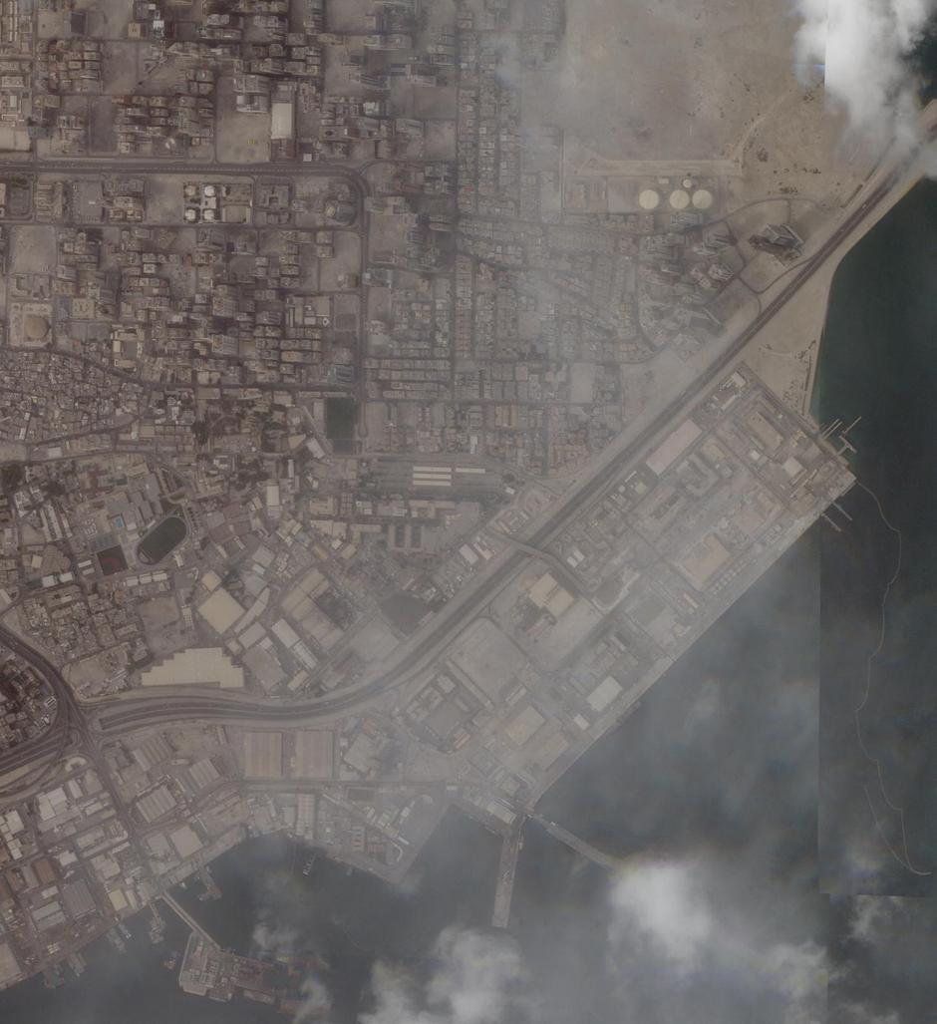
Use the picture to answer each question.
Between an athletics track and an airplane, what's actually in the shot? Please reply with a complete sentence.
Visible in the photo is an athletics track.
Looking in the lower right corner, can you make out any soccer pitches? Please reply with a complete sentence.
No, no soccer pitch appears in the lower right corner.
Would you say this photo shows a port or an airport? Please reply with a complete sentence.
This image shows a port.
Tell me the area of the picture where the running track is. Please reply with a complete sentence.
Look in the left portion of the view to spot the running track.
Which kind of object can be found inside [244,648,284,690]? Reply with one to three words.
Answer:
building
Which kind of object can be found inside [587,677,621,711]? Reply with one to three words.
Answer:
building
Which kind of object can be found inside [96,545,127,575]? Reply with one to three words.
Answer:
sports court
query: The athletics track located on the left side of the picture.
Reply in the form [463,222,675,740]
[134,515,190,567]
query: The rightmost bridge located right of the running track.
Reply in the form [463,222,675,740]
[481,523,606,613]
